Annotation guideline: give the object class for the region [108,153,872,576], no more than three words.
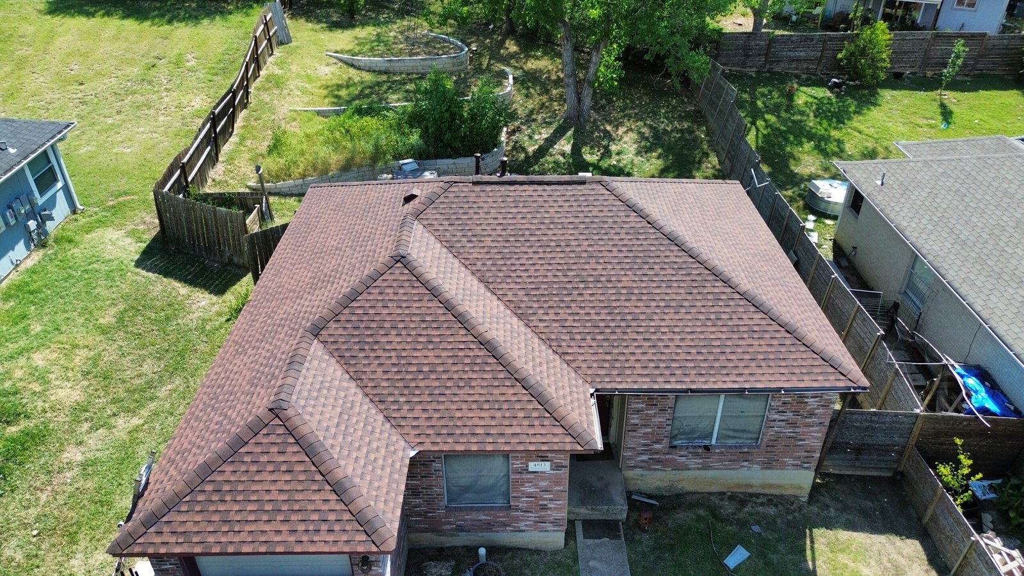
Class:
house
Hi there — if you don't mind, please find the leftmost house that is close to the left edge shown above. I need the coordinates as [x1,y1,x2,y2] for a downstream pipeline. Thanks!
[0,121,86,282]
